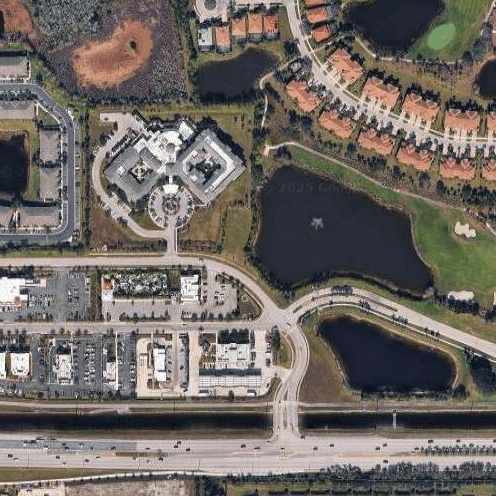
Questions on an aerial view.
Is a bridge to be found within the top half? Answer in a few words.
No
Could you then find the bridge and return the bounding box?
[271,396,300,438]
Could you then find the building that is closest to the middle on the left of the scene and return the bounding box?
[181,275,199,302]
